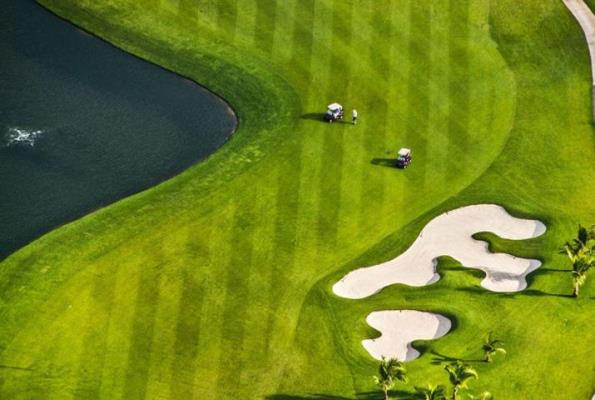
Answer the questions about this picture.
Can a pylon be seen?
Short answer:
No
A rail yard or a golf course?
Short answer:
golf course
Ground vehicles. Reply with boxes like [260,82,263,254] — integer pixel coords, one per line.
[325,102,346,122]
[396,148,412,170]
